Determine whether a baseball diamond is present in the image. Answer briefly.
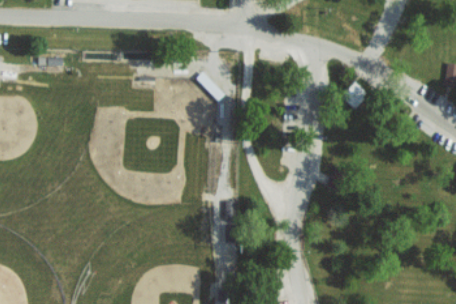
Yes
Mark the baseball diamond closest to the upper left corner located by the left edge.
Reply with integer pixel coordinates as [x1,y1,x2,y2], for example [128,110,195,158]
[0,94,38,160]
